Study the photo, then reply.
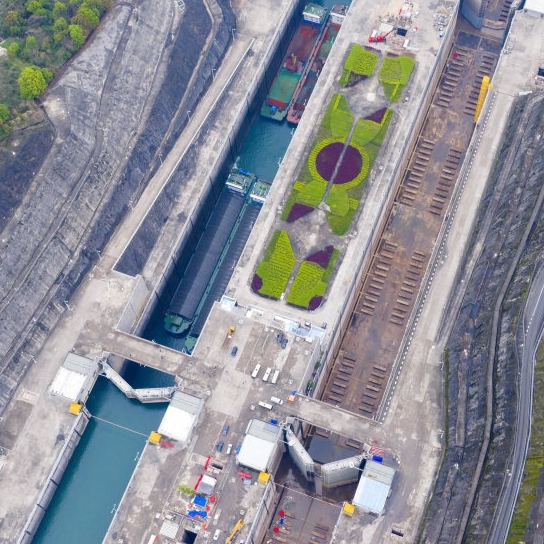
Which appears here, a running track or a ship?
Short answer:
ship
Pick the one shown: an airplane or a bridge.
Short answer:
bridge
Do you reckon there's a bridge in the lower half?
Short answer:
Yes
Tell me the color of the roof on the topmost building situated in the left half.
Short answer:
white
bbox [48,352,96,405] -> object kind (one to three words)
building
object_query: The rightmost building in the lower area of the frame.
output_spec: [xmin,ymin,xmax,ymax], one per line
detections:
[352,459,396,516]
